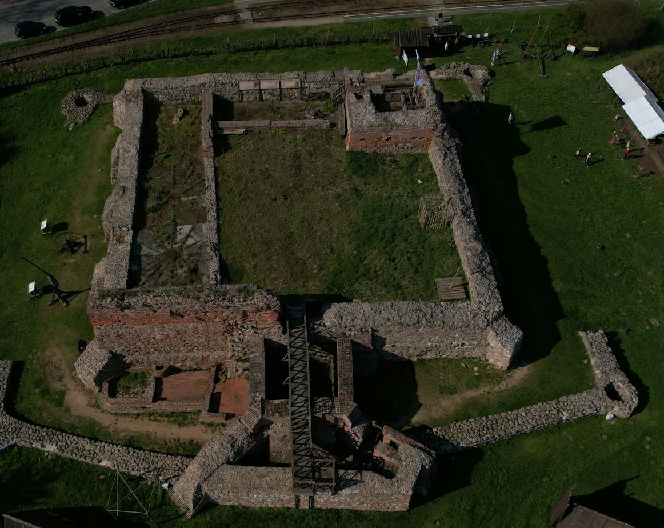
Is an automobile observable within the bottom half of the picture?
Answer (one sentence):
No, there's no automobile to be seen within the bottom half of the picture.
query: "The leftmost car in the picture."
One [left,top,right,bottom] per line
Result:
[10,19,47,38]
